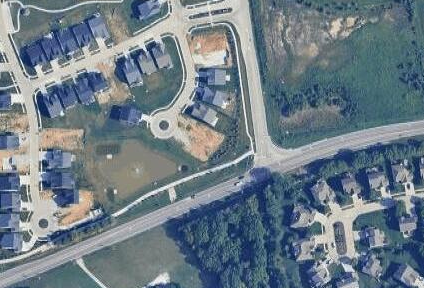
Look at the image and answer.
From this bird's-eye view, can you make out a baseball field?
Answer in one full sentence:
No, this view has no baseball field in it.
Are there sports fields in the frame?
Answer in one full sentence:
No, this view has no sports field in it.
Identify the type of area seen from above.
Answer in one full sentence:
This image shows a residential area.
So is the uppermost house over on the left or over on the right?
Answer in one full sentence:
You can find the uppermost house on the left side of the picture.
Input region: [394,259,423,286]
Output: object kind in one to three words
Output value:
house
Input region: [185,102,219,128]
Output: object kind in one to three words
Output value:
house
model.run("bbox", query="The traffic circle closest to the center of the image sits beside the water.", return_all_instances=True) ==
[149,111,178,139]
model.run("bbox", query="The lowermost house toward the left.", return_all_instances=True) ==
[0,230,21,250]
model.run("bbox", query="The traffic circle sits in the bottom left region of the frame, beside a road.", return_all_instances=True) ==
[28,209,58,237]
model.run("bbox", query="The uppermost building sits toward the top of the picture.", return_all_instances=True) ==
[134,0,159,21]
